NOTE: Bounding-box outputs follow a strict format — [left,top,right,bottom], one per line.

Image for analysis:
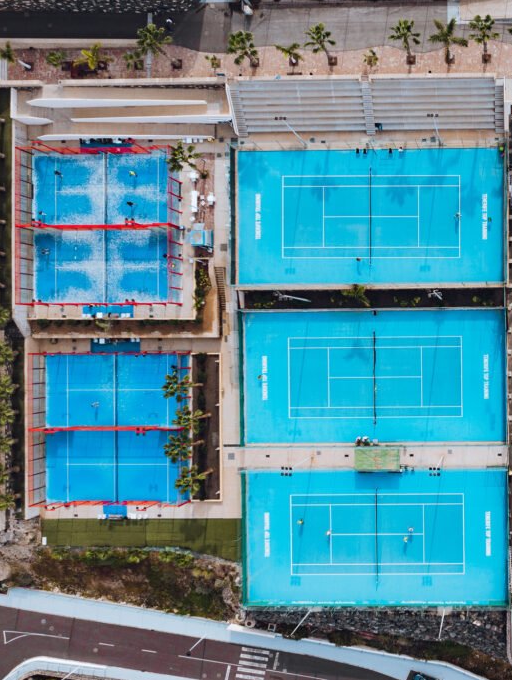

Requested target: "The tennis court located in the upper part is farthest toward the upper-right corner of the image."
[237,149,504,286]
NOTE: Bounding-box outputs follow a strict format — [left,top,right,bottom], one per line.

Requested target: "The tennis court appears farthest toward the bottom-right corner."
[245,470,507,605]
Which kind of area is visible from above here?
sports ground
